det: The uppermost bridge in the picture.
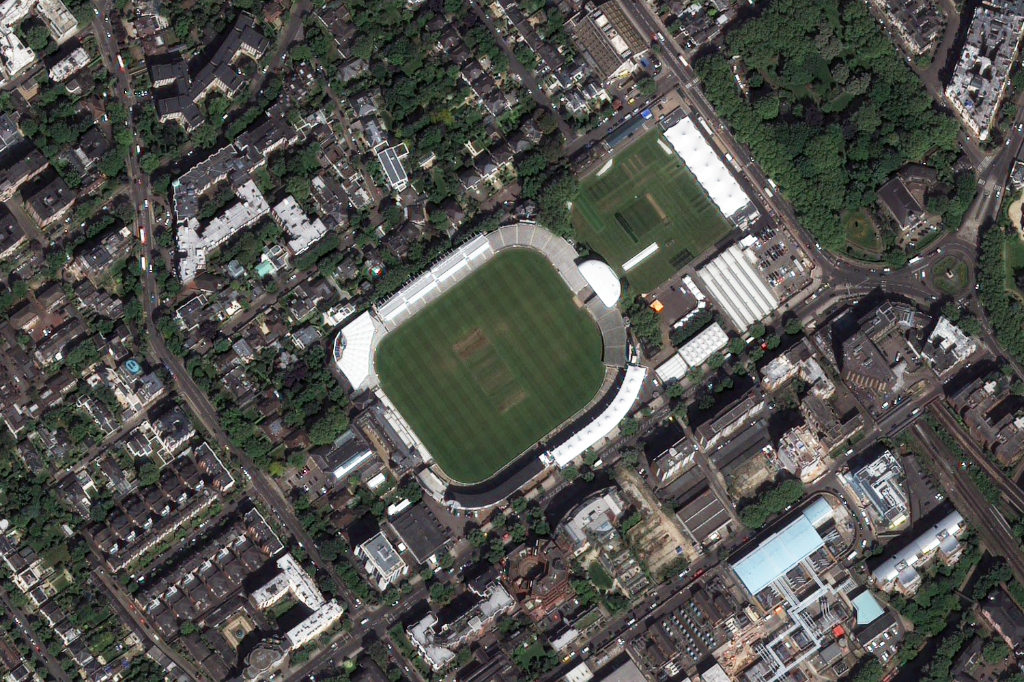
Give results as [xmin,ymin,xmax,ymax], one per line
[864,375,960,451]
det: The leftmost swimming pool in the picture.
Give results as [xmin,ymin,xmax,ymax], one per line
[120,360,140,377]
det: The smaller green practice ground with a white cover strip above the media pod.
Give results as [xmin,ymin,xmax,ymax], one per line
[570,129,733,299]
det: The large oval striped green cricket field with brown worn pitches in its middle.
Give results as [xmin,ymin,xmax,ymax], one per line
[375,246,607,485]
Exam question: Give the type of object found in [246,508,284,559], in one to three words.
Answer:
building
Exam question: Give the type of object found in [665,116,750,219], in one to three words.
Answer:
tent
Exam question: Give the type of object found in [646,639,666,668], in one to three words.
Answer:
shed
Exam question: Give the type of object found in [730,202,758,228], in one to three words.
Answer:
house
